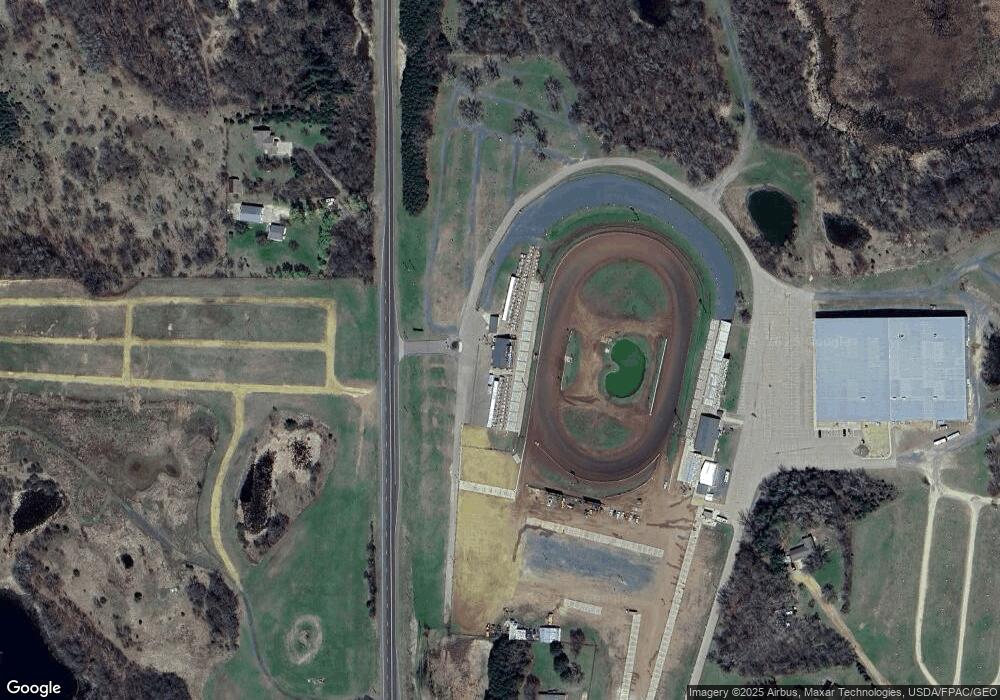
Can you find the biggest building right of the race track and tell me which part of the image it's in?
right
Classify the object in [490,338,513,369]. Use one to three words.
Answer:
building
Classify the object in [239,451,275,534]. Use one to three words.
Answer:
pond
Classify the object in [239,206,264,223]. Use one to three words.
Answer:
barn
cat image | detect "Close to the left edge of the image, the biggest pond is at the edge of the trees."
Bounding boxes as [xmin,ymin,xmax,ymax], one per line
[14,475,62,527]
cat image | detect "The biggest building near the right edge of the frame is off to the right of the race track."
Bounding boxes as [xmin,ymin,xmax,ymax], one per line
[815,317,970,425]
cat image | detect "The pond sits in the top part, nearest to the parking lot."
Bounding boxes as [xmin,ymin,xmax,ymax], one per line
[748,190,797,244]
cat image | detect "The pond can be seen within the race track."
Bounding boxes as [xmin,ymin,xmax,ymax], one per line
[606,340,646,397]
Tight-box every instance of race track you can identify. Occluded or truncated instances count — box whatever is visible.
[515,227,703,494]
